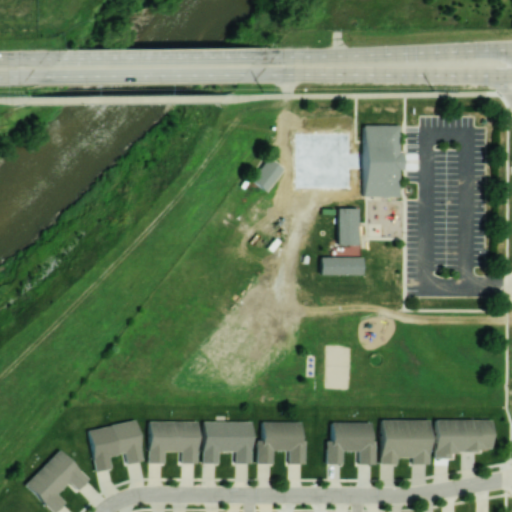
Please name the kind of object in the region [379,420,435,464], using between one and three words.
house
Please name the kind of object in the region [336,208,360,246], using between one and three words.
shed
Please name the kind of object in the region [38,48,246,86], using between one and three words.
bridge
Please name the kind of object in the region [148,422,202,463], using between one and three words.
house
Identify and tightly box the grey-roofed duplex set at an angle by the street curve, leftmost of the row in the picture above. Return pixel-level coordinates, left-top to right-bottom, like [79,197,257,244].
[25,450,90,512]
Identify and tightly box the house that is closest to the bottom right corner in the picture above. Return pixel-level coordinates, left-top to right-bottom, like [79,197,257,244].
[433,420,496,459]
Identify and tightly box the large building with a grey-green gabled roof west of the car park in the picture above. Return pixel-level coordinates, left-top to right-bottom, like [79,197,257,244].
[363,126,420,196]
